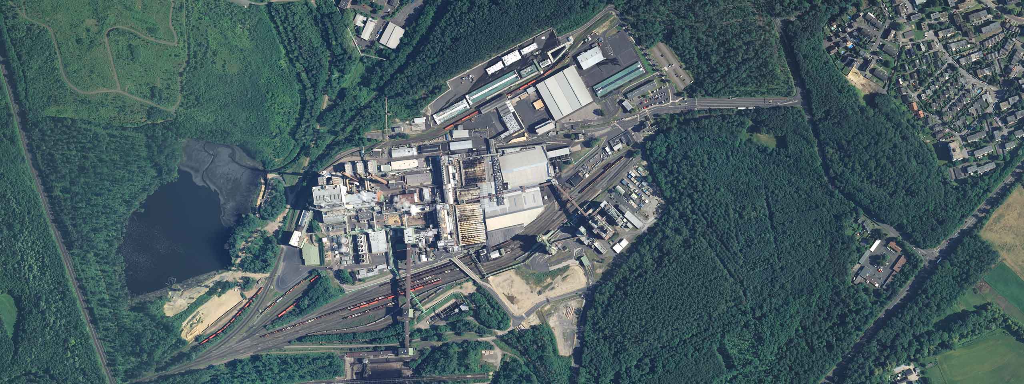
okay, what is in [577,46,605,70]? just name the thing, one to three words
building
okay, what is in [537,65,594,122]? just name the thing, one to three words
building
